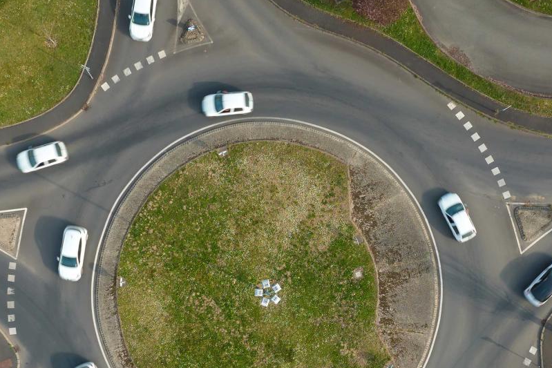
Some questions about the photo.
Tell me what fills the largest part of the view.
paved ground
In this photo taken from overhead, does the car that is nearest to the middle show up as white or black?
white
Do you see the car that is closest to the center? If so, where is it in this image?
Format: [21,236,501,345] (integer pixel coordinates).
[201,89,255,119]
